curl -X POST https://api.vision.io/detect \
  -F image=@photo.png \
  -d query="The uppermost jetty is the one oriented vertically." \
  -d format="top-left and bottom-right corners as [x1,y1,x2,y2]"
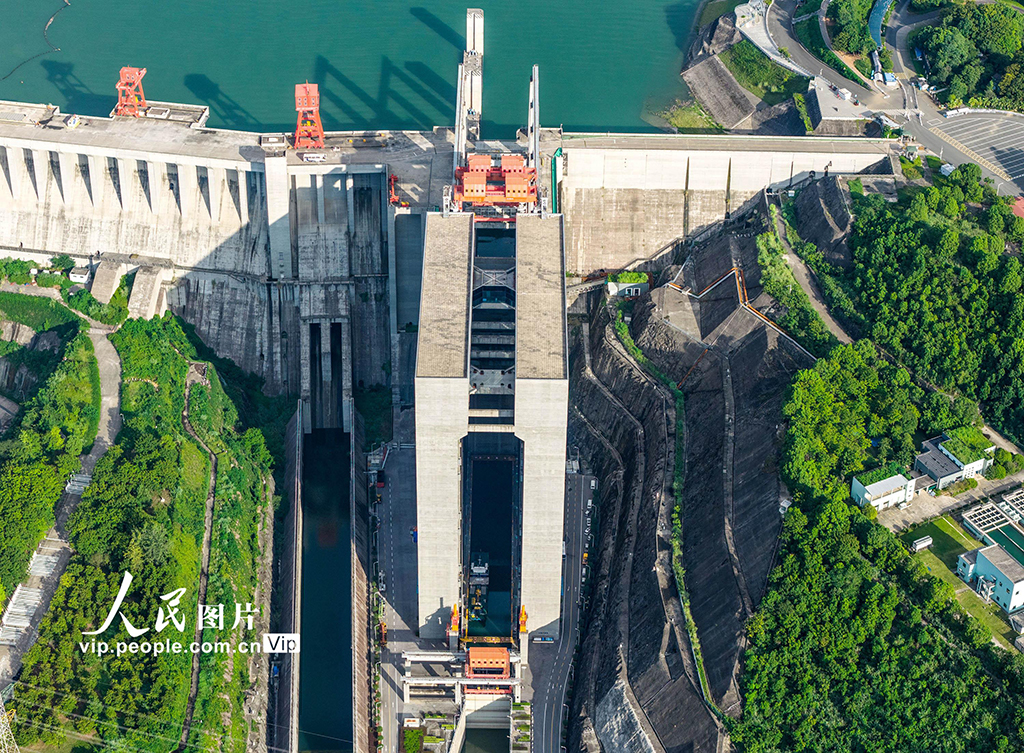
[466,8,483,53]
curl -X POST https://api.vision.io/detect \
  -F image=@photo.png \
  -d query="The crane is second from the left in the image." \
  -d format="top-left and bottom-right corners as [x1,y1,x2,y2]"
[290,86,328,151]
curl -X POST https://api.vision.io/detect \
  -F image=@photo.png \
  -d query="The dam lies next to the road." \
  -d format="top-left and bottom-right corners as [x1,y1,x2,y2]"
[0,94,909,429]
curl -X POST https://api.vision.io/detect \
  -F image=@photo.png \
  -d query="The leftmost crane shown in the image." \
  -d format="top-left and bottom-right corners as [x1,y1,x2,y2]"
[114,62,151,120]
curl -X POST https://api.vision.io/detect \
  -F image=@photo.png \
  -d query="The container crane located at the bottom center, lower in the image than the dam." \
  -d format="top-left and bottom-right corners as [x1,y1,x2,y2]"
[464,646,511,686]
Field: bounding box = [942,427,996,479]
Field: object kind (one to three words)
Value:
building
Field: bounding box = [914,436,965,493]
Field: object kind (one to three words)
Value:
building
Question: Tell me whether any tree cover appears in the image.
Yes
